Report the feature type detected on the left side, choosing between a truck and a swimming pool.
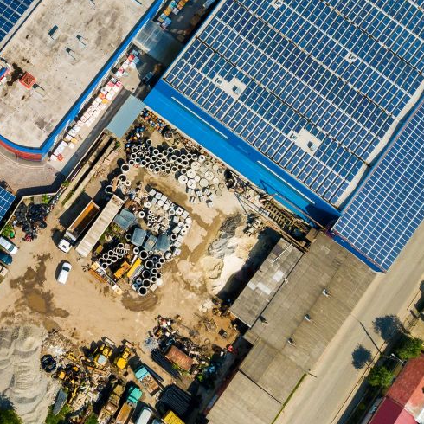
truck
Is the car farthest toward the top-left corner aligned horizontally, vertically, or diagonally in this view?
diagonally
